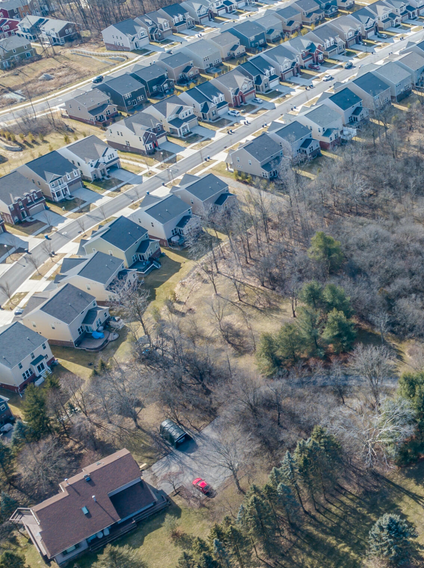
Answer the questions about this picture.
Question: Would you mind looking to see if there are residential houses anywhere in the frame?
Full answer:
Yes, this view includes a residential house.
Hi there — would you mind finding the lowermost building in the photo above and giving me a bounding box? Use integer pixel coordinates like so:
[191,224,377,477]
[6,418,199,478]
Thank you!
[4,449,169,568]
